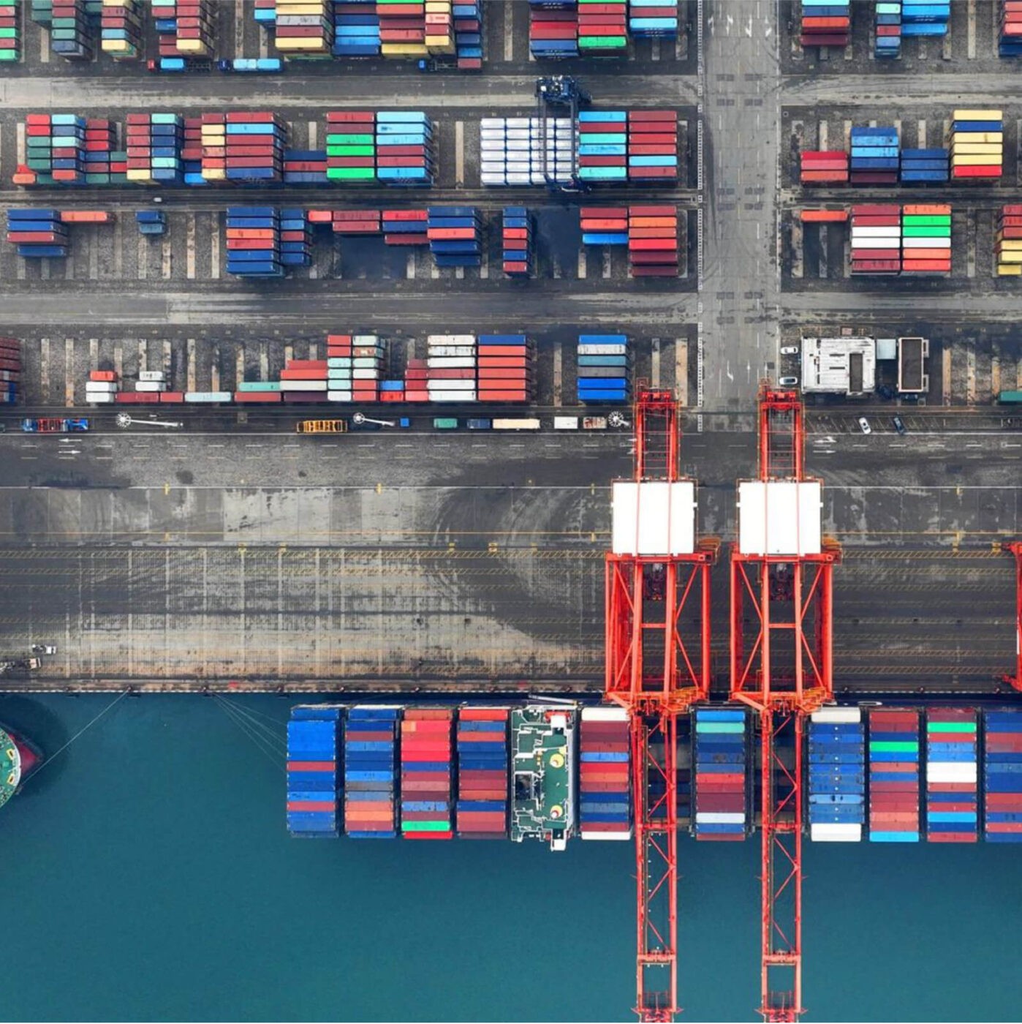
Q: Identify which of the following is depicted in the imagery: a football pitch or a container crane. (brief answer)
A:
container crane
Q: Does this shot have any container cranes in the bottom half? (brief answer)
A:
Yes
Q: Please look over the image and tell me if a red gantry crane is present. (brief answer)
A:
Yes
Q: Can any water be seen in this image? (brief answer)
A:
Yes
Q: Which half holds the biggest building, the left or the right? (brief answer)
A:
right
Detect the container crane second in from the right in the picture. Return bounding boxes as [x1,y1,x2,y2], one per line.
[717,376,848,1024]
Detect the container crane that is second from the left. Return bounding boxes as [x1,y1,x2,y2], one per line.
[600,376,730,1024]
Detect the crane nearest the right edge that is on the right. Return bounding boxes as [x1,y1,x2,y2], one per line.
[996,544,1022,689]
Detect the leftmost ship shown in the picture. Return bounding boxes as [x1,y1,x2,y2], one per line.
[0,720,42,802]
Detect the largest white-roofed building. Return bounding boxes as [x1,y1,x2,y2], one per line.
[803,338,875,395]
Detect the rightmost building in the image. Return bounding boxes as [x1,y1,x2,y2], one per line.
[897,337,929,392]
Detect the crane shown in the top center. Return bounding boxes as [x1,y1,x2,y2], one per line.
[537,78,600,201]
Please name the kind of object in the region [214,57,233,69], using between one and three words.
vehicle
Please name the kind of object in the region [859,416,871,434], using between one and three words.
vehicle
